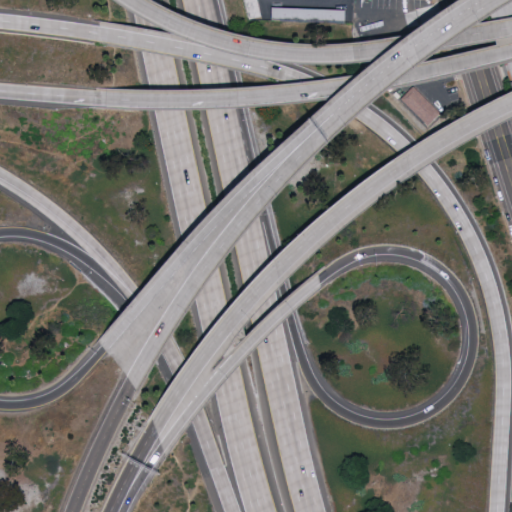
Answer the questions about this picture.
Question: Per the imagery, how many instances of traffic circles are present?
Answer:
0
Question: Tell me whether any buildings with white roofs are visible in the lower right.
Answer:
No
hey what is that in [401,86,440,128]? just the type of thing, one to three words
building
